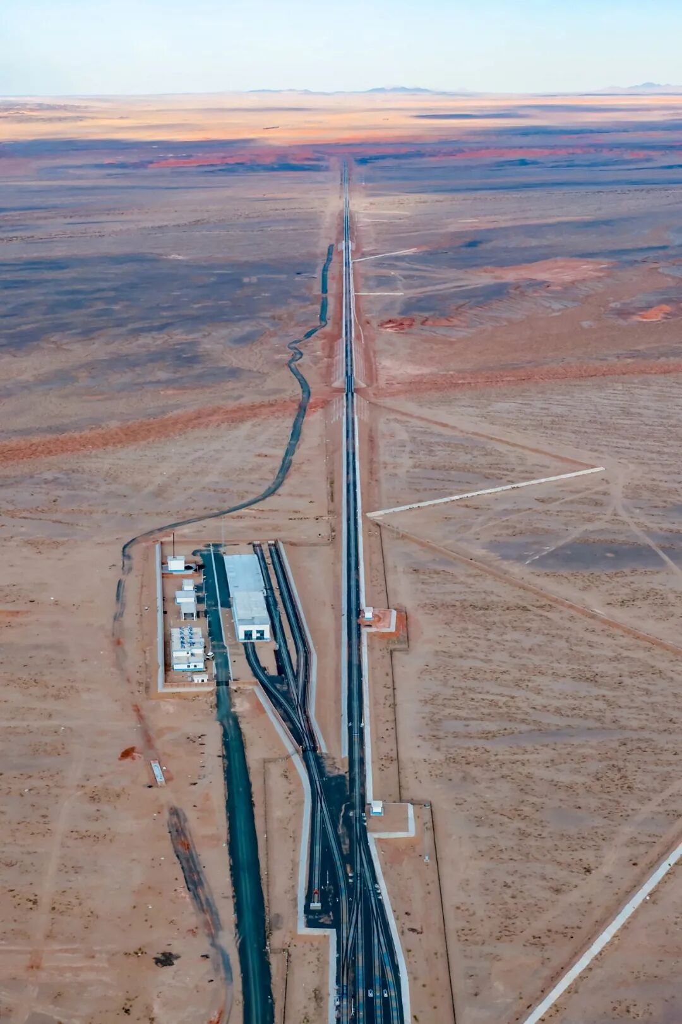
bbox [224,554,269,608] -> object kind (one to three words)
building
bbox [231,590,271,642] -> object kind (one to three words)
shed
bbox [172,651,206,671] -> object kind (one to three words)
building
